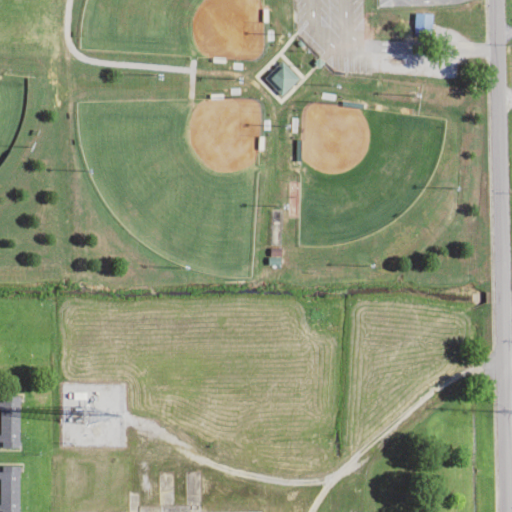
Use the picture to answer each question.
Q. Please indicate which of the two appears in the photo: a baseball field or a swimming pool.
baseball field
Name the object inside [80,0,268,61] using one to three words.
baseball field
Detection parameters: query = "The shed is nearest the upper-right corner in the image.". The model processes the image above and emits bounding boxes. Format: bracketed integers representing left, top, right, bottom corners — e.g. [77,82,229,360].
[414,13,434,34]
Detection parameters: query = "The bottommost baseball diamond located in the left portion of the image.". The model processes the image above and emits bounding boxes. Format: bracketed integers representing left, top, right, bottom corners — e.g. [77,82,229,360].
[76,98,265,280]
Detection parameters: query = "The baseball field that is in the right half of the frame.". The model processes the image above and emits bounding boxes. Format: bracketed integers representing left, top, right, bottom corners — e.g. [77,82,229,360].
[299,102,447,248]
